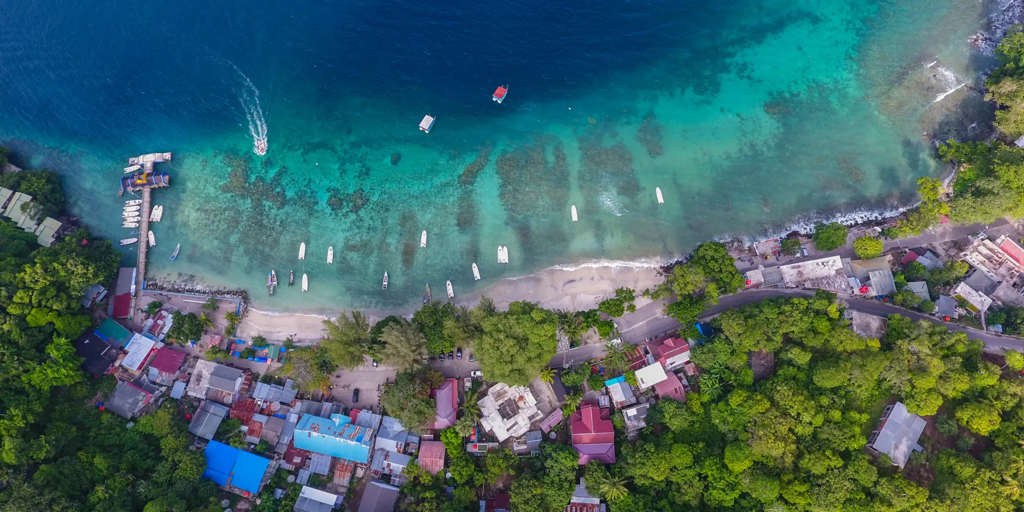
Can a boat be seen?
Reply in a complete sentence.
Yes, a boat appears in the view.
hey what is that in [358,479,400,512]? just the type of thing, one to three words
building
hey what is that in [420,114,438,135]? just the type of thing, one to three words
boat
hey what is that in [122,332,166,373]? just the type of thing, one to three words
house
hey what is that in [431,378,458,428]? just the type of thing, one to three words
house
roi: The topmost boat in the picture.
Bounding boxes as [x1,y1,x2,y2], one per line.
[492,85,512,106]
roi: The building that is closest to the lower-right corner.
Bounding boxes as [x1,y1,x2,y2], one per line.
[867,402,927,468]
